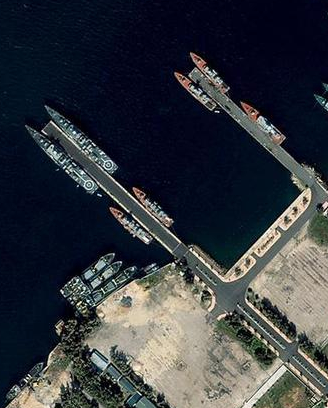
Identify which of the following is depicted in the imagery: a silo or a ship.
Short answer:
ship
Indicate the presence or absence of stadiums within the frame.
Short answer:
No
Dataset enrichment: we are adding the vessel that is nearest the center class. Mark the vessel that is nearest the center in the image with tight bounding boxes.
[134,187,176,228]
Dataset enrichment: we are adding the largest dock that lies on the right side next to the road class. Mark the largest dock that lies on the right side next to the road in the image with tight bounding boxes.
[188,67,304,177]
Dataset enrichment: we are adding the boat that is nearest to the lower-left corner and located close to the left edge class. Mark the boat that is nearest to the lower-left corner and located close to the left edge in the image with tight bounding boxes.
[4,384,20,400]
